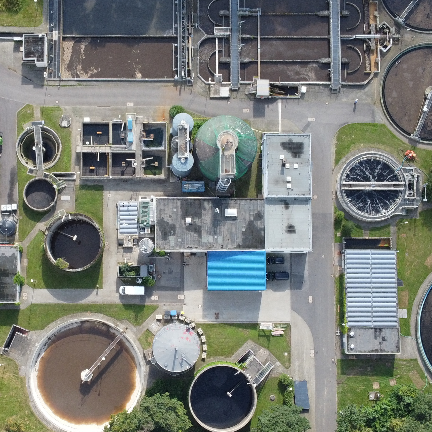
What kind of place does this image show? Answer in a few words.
industrial area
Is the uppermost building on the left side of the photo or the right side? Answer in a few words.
left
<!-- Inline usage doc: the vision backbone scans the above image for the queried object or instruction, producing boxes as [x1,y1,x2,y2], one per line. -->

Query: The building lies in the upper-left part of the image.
[21,34,48,69]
